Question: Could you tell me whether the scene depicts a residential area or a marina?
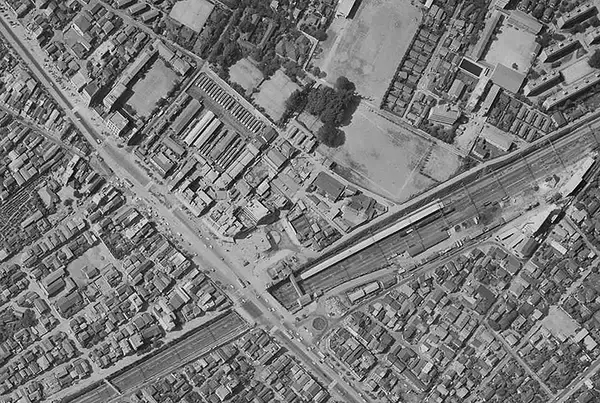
residential area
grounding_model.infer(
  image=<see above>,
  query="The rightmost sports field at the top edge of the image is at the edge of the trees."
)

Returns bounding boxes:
[311,0,423,99]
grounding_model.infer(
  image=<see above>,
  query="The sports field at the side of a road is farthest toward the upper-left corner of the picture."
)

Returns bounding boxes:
[169,0,214,32]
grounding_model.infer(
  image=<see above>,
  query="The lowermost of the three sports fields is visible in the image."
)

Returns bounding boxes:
[320,103,435,200]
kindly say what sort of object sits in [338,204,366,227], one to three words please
building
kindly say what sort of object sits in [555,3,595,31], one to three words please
building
